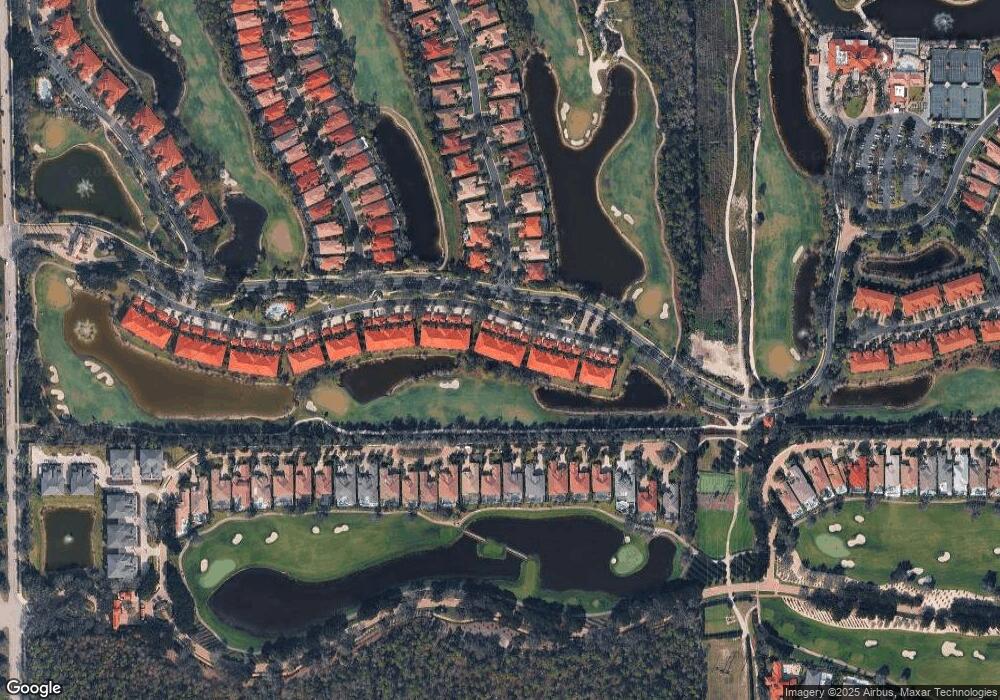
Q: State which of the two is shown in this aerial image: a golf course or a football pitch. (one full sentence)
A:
The image shows a golf course.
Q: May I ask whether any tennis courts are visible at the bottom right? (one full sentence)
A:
No, there's no tennis court to be seen at the bottom right.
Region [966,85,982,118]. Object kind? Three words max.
tennis court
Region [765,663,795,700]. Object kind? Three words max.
house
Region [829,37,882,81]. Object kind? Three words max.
building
